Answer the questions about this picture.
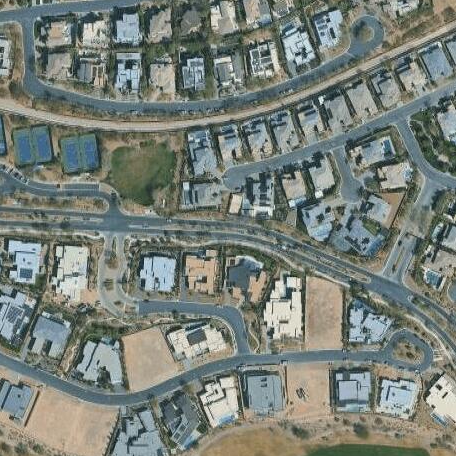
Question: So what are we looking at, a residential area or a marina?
residential area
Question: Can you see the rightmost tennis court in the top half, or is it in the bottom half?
top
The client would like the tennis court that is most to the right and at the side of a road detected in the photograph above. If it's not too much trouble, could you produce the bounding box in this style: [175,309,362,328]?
[60,133,100,173]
